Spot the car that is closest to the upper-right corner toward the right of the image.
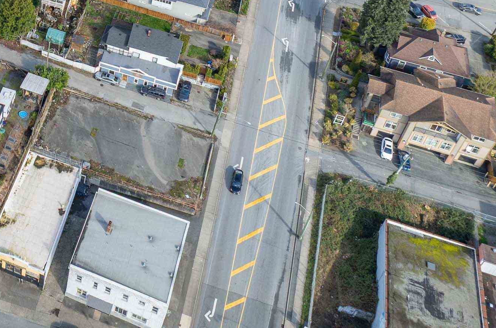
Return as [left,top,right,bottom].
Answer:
[455,2,484,19]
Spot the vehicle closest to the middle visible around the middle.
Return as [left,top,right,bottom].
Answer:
[230,169,244,198]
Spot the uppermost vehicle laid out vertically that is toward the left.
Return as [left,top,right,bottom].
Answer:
[180,77,193,106]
